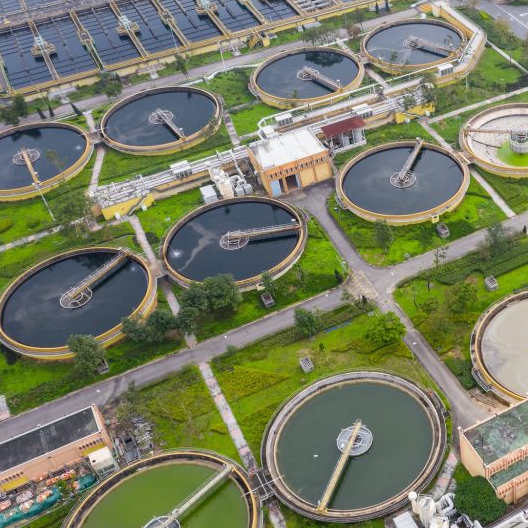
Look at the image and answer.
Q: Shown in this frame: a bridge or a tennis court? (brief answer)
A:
bridge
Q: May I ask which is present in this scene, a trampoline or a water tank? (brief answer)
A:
water tank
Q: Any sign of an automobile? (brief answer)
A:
No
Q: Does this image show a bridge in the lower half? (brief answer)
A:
Yes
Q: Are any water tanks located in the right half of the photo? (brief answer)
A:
Yes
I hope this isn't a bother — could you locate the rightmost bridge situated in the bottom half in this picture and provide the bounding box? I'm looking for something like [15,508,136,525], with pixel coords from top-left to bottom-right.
[317,419,362,514]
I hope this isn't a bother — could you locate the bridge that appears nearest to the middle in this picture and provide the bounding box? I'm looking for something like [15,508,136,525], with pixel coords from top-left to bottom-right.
[219,223,305,238]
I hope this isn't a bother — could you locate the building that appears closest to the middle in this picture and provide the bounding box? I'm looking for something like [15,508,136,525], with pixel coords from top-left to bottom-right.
[251,125,336,198]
